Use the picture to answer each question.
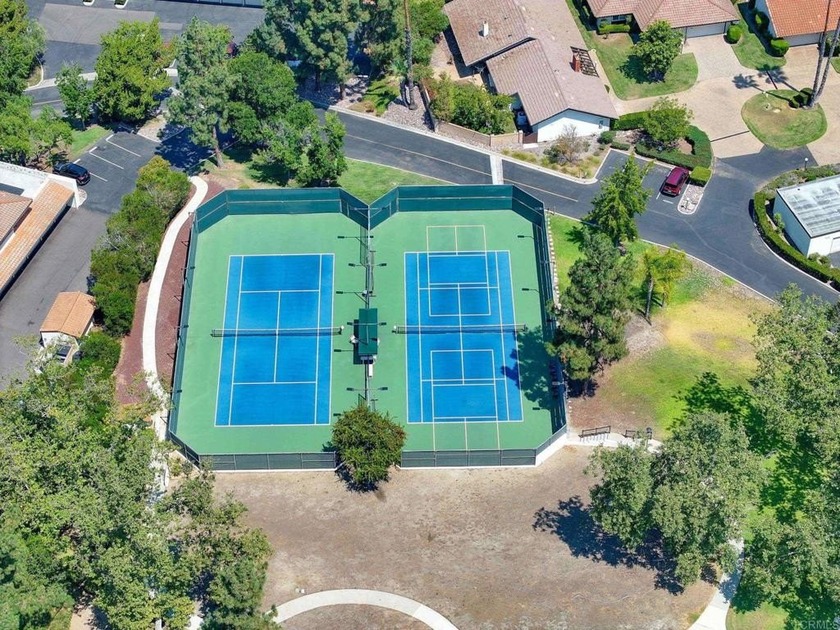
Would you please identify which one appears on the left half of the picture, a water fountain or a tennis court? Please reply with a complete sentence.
Looking on the left half of the picture, you will find a tennis court.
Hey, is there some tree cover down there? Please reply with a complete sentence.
Yes, the picture does contain tree cover.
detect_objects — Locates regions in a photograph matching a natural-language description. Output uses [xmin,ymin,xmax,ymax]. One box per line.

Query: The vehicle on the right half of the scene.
[663,166,689,199]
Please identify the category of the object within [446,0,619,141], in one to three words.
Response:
house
